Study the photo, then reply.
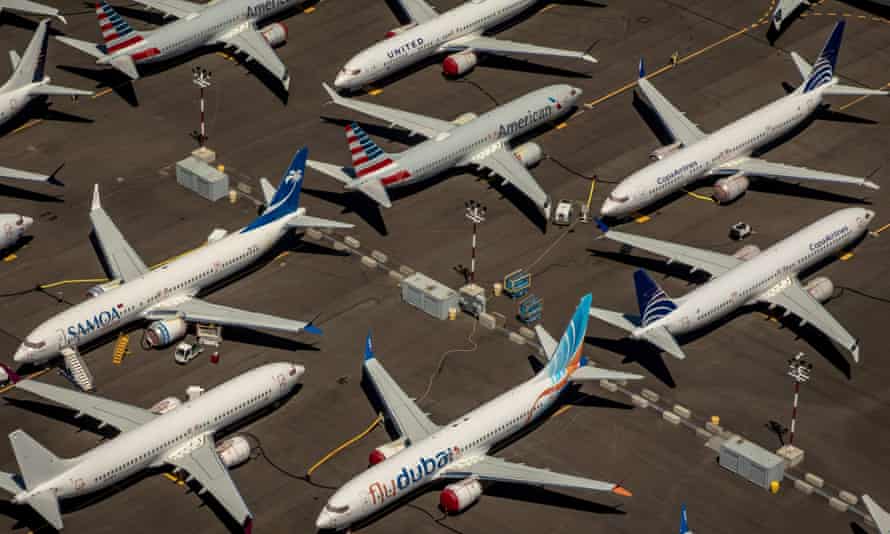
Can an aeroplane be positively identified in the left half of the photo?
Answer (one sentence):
Yes, in the left half of the photo there is an aeroplane.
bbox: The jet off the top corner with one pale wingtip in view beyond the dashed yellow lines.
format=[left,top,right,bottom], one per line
[772,0,829,30]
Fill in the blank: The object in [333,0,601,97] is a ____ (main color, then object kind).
white airplane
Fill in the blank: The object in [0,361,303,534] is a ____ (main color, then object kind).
white airplane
